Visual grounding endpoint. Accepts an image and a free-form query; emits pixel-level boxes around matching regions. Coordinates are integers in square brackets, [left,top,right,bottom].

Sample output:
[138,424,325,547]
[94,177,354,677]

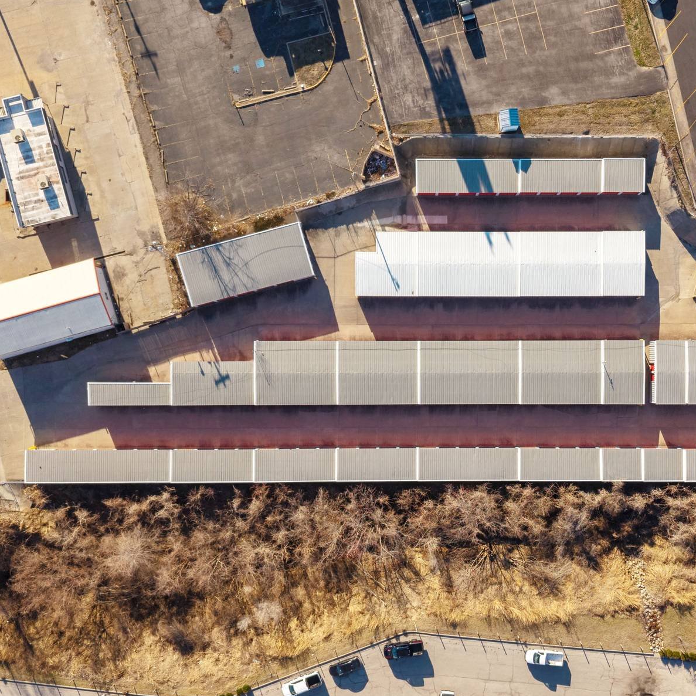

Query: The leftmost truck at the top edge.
[456,0,479,34]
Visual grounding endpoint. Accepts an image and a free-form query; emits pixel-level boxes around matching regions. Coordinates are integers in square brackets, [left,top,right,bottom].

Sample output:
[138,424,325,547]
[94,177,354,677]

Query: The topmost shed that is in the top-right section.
[499,109,520,134]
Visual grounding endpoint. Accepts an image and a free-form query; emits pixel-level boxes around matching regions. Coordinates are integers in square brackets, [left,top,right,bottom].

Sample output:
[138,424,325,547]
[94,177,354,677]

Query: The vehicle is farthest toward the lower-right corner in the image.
[526,649,563,666]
